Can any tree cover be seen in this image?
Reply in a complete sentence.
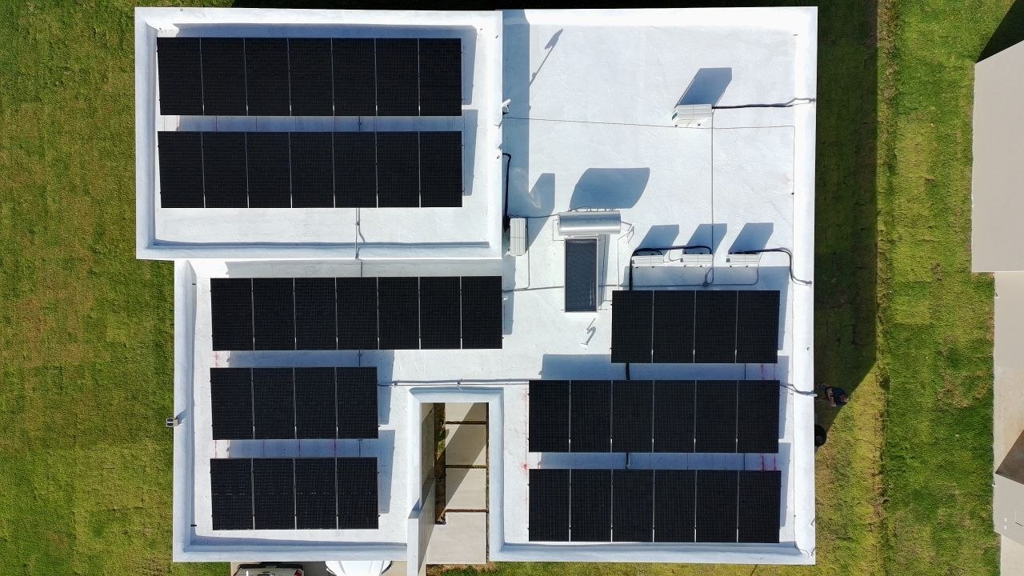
No, there is no tree cover in the image.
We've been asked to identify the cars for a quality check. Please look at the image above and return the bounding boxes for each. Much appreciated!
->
[231,562,304,576]
[329,562,393,576]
